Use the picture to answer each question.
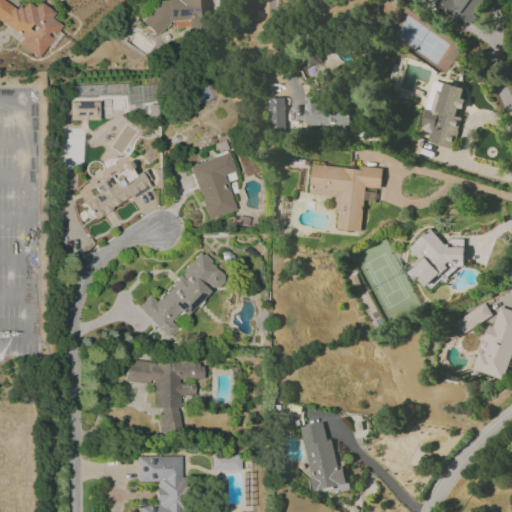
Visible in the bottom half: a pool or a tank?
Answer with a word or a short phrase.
pool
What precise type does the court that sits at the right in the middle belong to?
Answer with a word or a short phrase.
tennis court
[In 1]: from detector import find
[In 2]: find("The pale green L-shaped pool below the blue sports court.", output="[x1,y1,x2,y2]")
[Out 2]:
[402,64,432,92]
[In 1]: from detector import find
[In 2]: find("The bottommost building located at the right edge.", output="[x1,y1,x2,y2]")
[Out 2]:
[460,284,512,380]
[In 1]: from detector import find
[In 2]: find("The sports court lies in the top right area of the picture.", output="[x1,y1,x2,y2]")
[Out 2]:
[397,8,458,72]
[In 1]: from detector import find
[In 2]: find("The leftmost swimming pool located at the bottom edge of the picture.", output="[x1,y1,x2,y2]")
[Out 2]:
[227,473,242,505]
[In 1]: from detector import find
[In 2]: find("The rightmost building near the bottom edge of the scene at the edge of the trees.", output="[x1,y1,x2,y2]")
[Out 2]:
[302,422,350,493]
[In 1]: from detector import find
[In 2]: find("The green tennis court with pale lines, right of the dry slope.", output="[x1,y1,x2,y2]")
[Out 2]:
[364,242,432,330]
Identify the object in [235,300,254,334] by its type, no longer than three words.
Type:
swimming pool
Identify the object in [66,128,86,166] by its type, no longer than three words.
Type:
building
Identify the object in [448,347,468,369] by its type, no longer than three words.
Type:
swimming pool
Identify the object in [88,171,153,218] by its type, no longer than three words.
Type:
house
